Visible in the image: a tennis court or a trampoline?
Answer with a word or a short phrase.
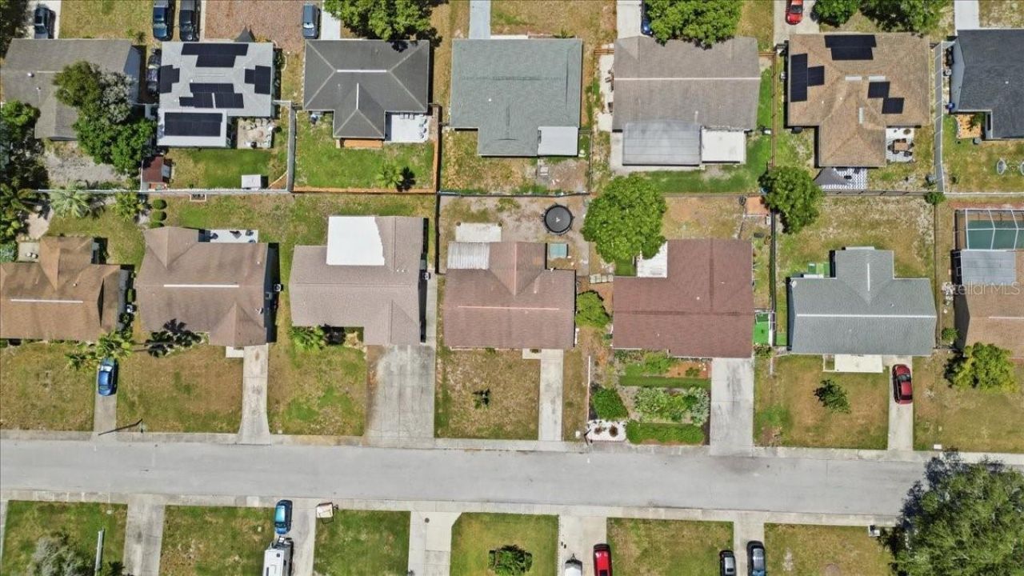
trampoline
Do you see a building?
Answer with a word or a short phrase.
Yes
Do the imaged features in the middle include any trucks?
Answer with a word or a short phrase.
No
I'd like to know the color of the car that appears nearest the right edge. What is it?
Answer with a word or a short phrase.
red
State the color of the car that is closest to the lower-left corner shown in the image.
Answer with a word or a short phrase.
blue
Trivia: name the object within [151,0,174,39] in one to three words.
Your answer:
truck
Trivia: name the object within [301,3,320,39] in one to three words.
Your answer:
car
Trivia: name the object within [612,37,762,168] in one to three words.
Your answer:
house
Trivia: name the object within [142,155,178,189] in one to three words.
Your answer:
shed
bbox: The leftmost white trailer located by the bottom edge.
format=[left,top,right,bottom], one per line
[263,533,291,576]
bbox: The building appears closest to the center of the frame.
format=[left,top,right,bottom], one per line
[443,241,577,348]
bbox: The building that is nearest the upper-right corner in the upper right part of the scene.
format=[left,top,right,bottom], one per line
[946,29,1024,141]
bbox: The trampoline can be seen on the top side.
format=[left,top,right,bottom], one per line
[543,204,574,234]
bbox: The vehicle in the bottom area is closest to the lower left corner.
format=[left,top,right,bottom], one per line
[97,359,118,395]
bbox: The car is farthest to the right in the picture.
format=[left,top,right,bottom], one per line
[892,364,913,403]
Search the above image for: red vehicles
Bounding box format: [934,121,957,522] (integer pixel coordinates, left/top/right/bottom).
[892,364,913,403]
[593,541,611,576]
[784,0,803,22]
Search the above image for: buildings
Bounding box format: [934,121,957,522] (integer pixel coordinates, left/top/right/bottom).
[784,33,930,168]
[304,39,430,140]
[443,241,577,348]
[612,37,762,168]
[132,226,273,348]
[288,216,422,346]
[158,41,278,151]
[0,236,129,339]
[142,155,178,189]
[784,247,940,355]
[450,38,582,158]
[946,29,1024,141]
[613,239,758,358]
[241,175,267,190]
[948,250,1024,358]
